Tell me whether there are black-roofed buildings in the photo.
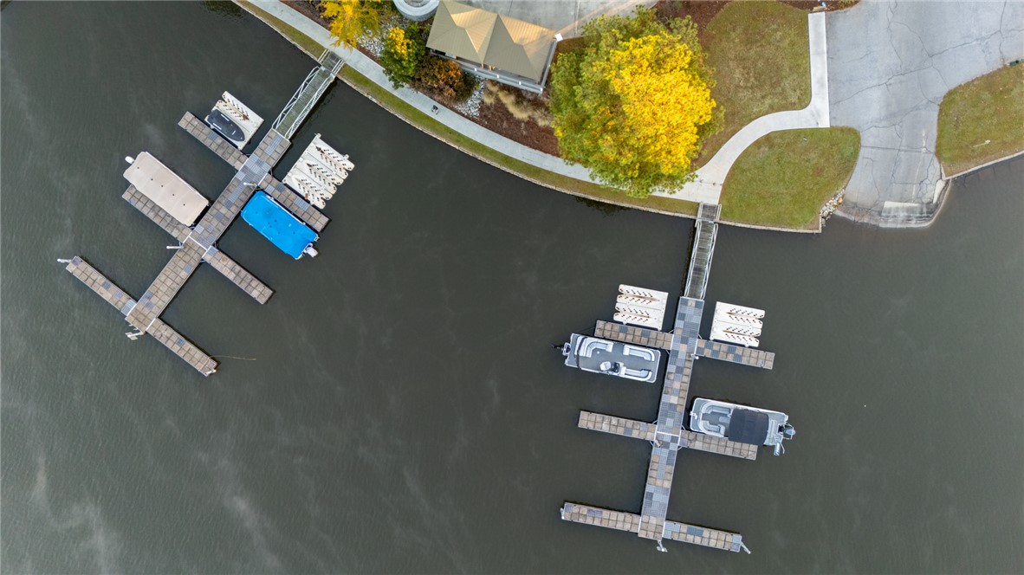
No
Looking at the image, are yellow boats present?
No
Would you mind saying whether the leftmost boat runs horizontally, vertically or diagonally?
diagonally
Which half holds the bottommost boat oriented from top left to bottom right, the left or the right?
left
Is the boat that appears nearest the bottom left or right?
right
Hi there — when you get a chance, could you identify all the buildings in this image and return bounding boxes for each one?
[428,1,556,90]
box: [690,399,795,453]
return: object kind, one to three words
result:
boat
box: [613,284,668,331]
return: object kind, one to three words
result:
pier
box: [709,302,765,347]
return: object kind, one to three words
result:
pier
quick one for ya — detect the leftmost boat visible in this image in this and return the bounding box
[127,153,212,226]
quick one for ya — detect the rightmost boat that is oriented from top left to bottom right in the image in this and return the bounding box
[243,193,320,262]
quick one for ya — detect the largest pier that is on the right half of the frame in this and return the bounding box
[563,296,776,551]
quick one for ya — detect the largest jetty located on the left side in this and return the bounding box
[66,110,331,377]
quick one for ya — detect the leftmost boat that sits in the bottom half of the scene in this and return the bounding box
[560,334,661,383]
